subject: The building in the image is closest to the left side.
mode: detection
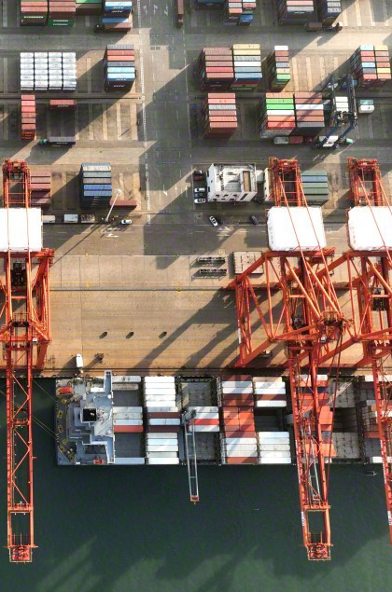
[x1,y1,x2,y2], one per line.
[206,156,257,200]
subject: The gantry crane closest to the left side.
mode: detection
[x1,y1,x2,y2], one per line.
[0,158,54,566]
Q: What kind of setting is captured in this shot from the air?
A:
port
